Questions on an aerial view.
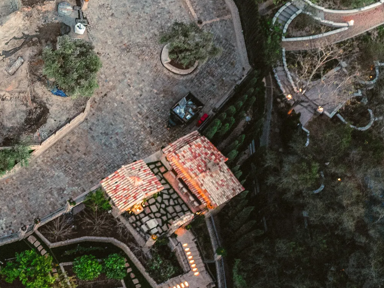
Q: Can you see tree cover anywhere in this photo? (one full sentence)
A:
Yes, there is tree cover in the image.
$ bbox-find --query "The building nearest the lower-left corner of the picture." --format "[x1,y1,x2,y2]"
[93,152,168,220]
